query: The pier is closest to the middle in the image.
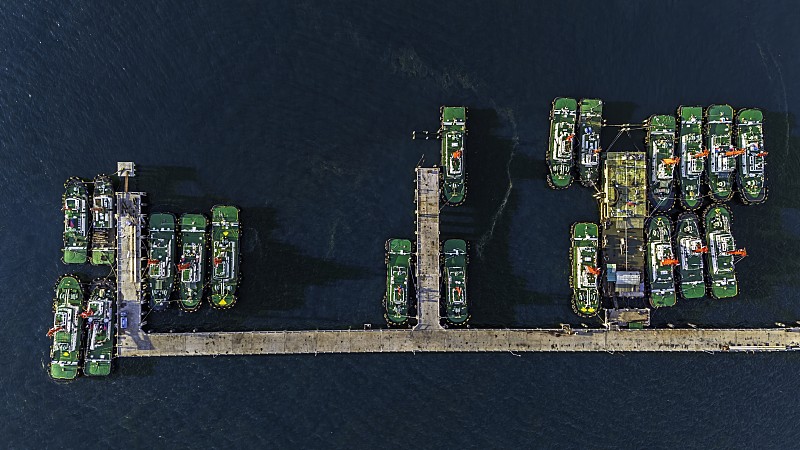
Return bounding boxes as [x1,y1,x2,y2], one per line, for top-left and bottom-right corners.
[410,167,447,331]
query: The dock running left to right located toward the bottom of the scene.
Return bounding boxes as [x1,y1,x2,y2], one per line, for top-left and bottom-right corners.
[116,325,800,358]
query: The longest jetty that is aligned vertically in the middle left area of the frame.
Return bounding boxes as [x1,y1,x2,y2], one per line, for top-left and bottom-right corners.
[115,191,148,334]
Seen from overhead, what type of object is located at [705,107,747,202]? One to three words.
boat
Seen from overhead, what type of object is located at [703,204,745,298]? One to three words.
boat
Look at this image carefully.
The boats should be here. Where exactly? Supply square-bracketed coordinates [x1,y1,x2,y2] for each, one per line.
[145,214,178,310]
[45,276,86,379]
[85,176,118,263]
[548,98,578,189]
[674,212,710,298]
[734,109,770,203]
[385,240,413,326]
[676,107,712,209]
[703,204,745,298]
[441,108,469,205]
[76,282,117,375]
[705,107,747,202]
[208,205,241,309]
[646,116,683,211]
[441,240,469,325]
[570,223,601,318]
[576,99,604,186]
[645,212,683,306]
[176,215,209,311]
[53,176,91,263]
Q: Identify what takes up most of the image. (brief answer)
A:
water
